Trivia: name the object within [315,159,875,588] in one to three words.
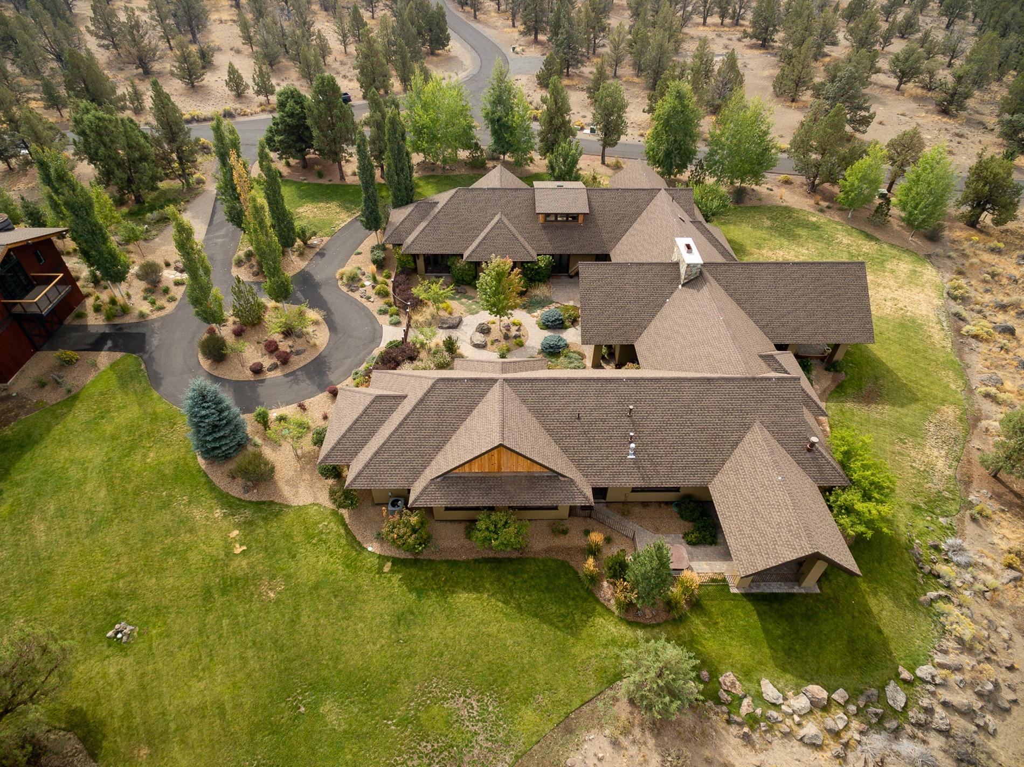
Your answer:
house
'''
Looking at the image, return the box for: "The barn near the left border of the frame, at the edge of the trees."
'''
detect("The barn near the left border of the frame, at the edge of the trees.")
[0,229,89,383]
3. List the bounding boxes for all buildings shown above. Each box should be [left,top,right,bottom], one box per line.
[315,159,875,588]
[0,229,89,383]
